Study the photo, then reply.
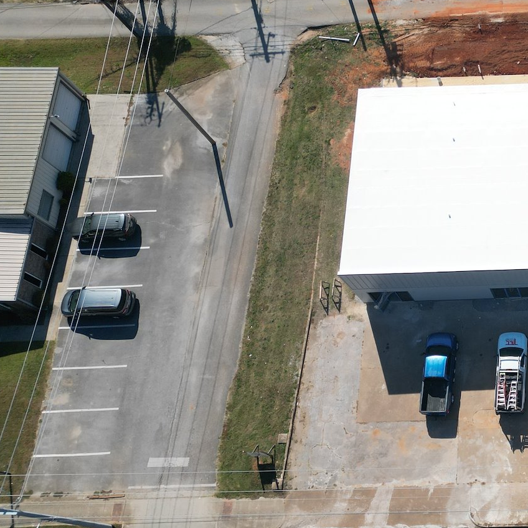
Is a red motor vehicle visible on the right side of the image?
No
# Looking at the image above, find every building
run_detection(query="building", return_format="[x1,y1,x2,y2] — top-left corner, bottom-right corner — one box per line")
[0,64,93,317]
[338,74,528,303]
